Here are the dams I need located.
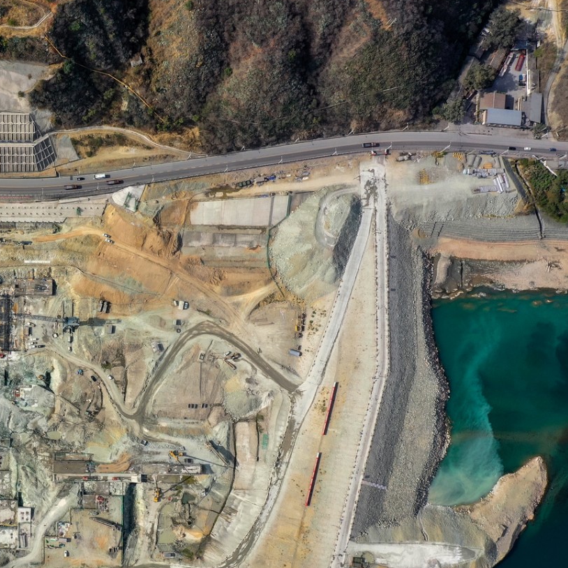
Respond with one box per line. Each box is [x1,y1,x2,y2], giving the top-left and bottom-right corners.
[252,154,451,568]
